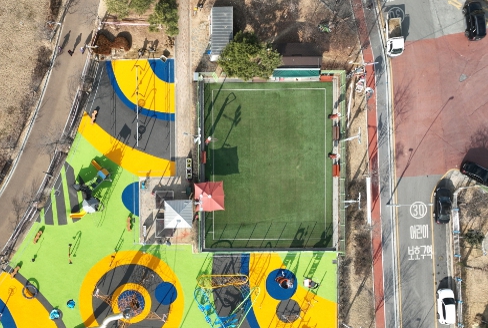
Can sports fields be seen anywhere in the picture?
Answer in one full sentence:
Yes, there's a sports field here.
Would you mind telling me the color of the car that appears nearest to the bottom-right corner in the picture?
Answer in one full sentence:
In this view, the car that appears nearest to the bottom-right corner is white.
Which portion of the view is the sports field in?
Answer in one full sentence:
The sports field appears toward the center of the photo.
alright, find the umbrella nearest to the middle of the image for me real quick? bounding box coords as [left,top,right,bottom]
[194,181,225,212]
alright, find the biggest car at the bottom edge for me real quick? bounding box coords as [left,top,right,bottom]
[437,290,458,325]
